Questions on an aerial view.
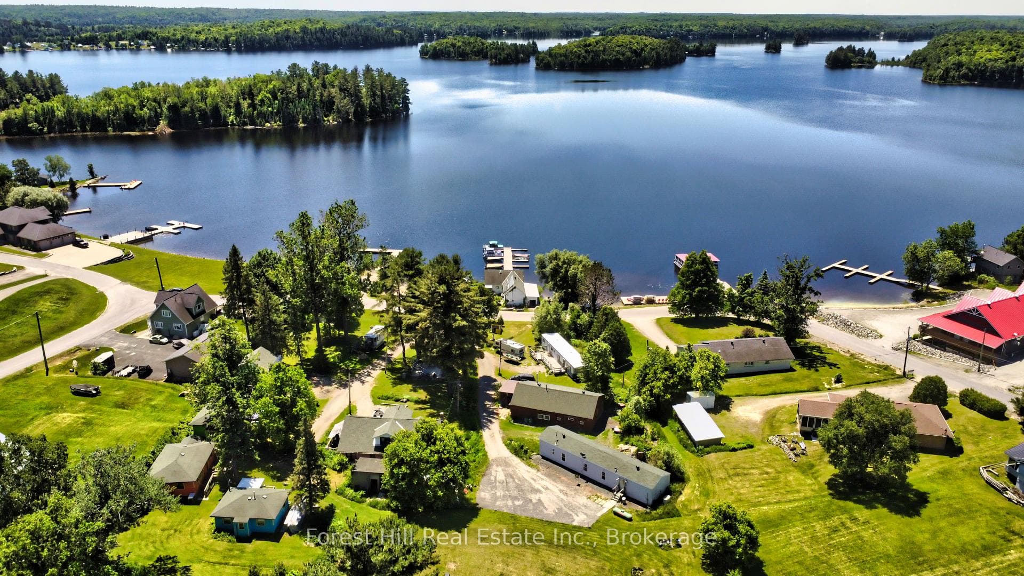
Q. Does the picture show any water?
Yes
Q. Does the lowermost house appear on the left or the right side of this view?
left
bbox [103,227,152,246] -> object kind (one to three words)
pier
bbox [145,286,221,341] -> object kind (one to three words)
building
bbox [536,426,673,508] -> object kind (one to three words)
house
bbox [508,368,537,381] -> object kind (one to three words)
vehicle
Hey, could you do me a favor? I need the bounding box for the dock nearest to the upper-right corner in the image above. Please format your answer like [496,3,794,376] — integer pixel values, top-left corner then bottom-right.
[818,259,910,285]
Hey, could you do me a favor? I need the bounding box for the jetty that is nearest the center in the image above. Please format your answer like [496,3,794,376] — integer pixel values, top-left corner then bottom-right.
[486,248,528,270]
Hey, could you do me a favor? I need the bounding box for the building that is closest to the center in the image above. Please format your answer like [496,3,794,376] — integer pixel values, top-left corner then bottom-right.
[485,266,540,305]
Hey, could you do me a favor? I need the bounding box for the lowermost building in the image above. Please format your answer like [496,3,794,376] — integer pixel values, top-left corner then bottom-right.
[211,478,291,543]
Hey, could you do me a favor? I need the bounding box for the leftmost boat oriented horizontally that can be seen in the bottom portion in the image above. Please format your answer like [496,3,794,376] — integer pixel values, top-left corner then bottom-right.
[62,383,106,396]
